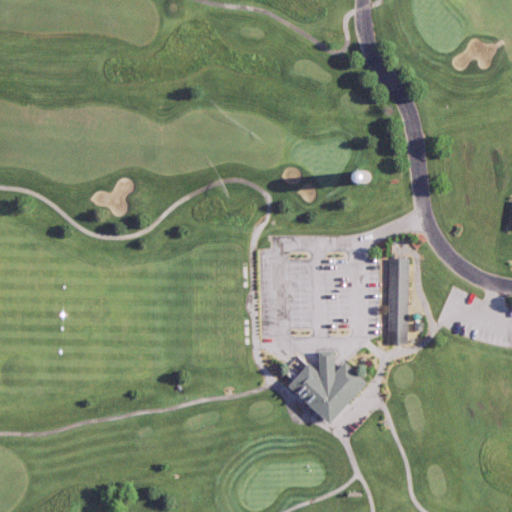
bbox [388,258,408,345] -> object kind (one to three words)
shed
